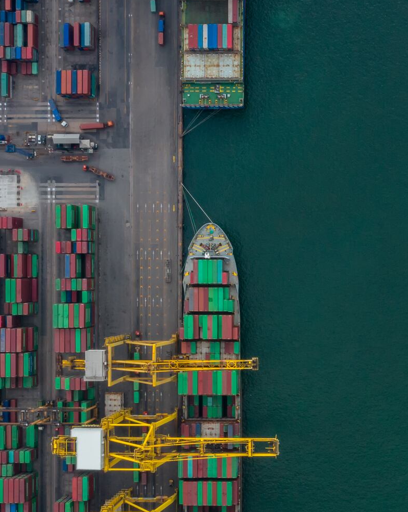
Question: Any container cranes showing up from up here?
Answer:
Yes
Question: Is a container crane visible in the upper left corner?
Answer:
No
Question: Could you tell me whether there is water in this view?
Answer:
Yes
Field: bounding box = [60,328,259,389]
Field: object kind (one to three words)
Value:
container crane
